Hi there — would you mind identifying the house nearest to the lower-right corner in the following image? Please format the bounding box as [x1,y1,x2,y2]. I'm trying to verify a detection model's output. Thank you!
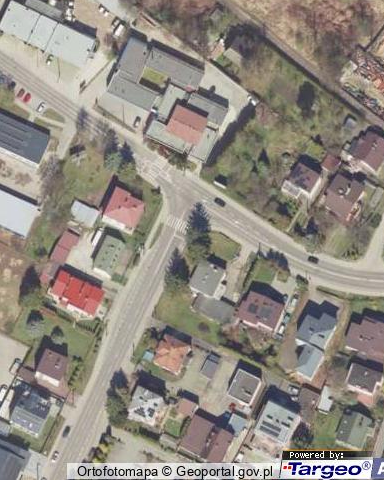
[332,409,374,451]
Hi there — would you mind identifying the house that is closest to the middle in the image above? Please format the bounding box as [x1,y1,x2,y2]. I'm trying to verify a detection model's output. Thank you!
[190,258,228,299]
